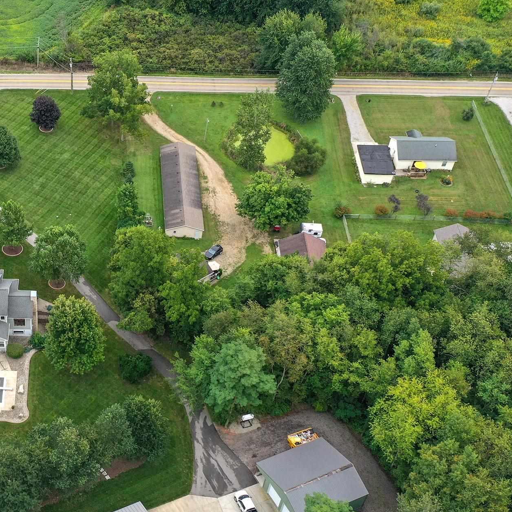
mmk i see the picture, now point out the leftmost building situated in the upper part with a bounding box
[160,139,204,240]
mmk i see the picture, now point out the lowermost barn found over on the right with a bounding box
[255,438,368,512]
